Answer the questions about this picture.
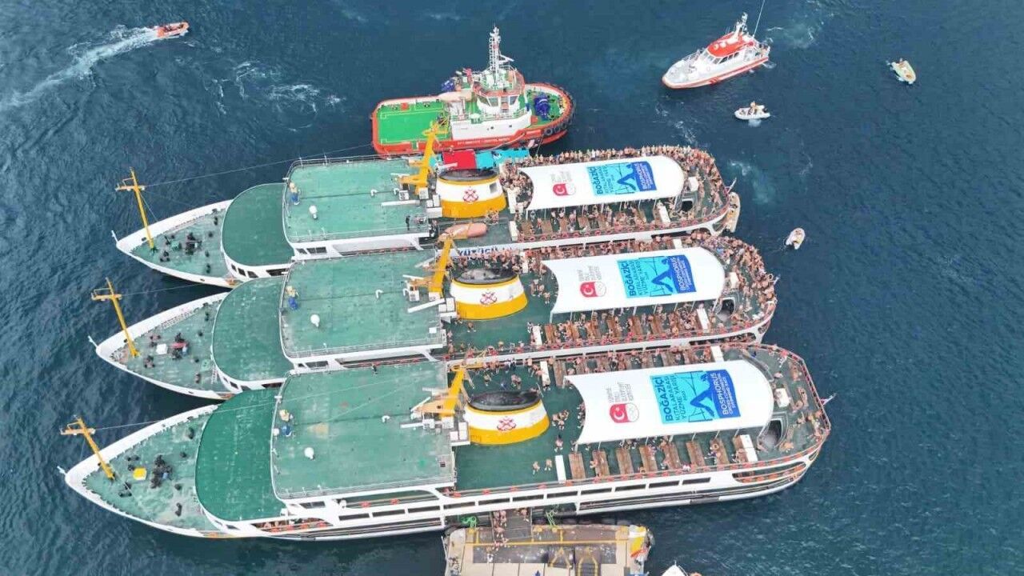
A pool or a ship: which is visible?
ship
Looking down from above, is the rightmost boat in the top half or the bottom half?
top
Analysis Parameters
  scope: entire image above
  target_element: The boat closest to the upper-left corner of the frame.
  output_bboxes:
[152,24,190,39]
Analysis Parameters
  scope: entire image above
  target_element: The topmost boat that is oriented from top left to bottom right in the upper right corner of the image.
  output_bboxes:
[888,58,919,81]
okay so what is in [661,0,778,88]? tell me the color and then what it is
white boat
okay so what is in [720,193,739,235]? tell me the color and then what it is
white boat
